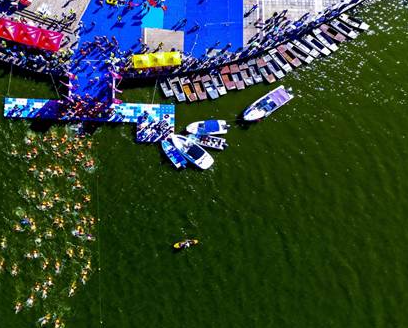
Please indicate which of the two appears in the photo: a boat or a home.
boat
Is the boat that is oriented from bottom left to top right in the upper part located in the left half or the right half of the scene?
right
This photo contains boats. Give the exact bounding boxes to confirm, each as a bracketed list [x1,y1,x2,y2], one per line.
[295,35,319,58]
[330,17,357,40]
[242,85,292,119]
[173,236,199,250]
[321,22,345,44]
[203,74,218,98]
[179,76,195,101]
[265,53,285,78]
[270,47,292,73]
[172,135,213,169]
[231,63,245,90]
[160,79,173,97]
[240,63,255,86]
[185,121,230,135]
[304,32,330,55]
[287,39,312,63]
[340,11,368,31]
[257,55,275,81]
[162,140,183,168]
[191,77,206,100]
[278,43,301,67]
[222,65,236,90]
[169,77,185,102]
[313,27,338,51]
[249,59,264,83]
[192,133,228,150]
[211,70,227,95]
